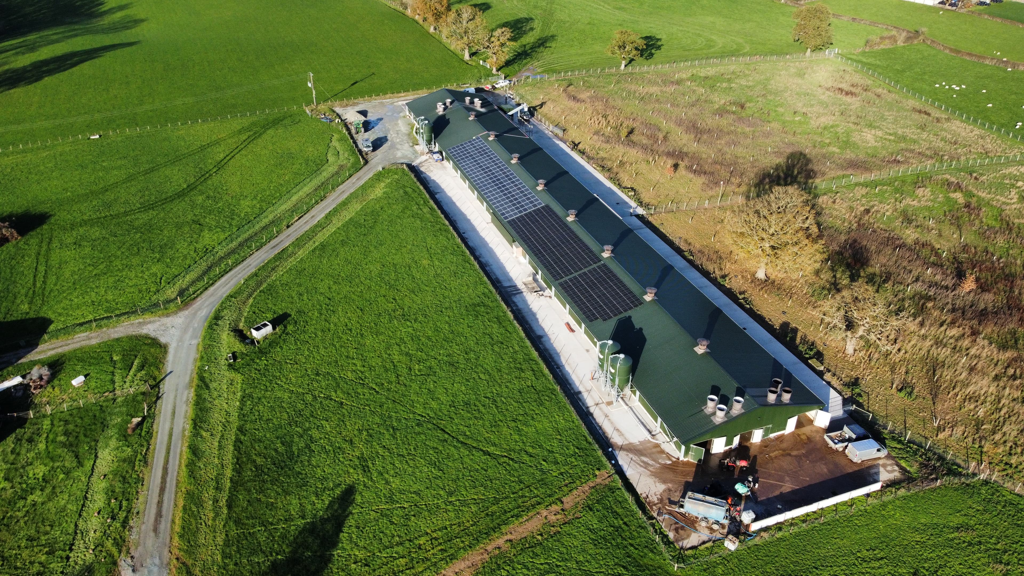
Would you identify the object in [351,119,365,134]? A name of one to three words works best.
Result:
work vehicle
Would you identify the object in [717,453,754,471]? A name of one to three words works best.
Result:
work vehicle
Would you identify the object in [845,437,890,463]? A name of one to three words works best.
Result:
vehicle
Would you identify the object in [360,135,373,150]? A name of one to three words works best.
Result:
vehicle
